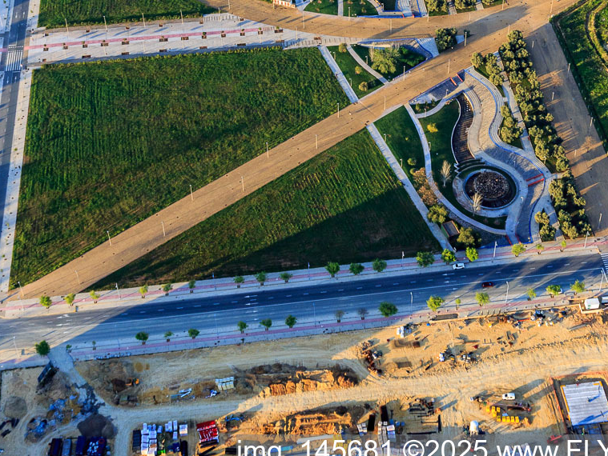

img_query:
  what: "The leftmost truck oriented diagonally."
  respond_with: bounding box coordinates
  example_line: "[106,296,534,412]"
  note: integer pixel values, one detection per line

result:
[35,359,58,385]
